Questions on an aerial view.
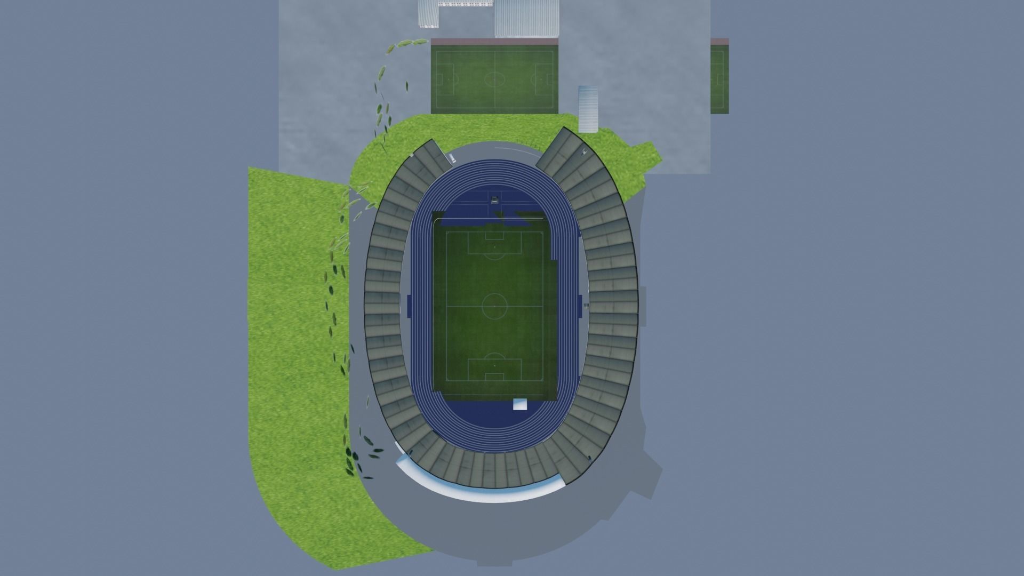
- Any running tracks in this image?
Yes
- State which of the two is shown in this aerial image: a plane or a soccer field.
soccer field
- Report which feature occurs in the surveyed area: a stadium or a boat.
stadium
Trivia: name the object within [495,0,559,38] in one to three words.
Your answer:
building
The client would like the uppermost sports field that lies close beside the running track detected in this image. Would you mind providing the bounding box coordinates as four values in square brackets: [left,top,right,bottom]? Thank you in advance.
[431,38,558,114]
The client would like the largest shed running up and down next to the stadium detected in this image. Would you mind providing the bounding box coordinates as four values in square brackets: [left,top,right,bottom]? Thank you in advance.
[579,86,598,133]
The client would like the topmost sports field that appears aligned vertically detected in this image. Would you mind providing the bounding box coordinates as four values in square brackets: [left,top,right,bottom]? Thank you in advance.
[710,38,729,114]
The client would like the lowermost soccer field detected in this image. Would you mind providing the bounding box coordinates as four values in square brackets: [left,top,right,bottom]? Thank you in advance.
[433,211,557,401]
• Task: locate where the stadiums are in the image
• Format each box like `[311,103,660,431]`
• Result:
[364,126,639,488]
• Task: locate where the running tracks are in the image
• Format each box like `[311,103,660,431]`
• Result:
[407,159,582,454]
